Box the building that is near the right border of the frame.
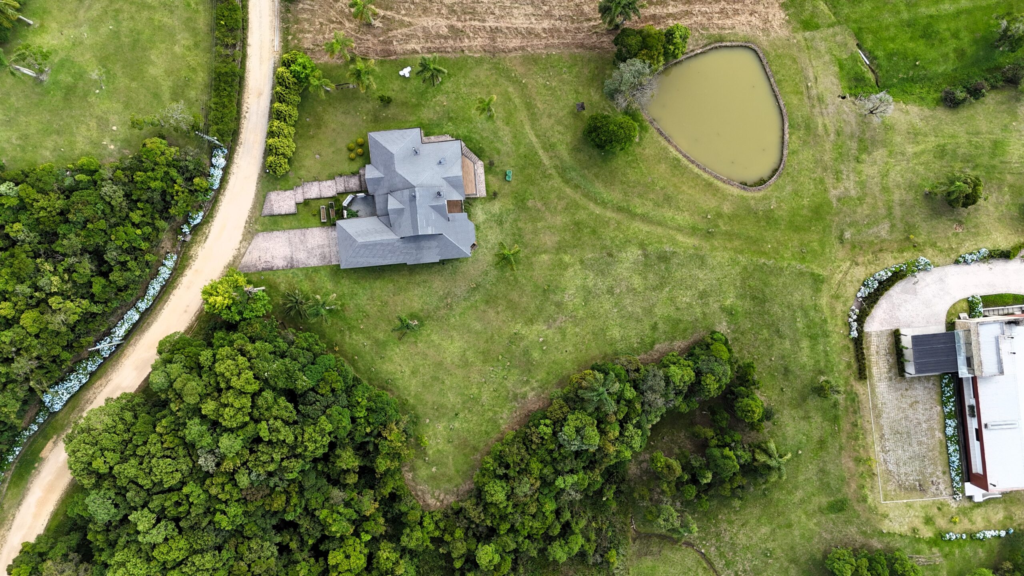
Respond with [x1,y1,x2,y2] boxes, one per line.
[906,314,1024,501]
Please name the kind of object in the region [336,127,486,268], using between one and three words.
house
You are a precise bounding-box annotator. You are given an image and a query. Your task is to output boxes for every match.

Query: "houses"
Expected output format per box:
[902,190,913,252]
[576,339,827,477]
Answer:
[336,127,486,268]
[906,314,1024,501]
